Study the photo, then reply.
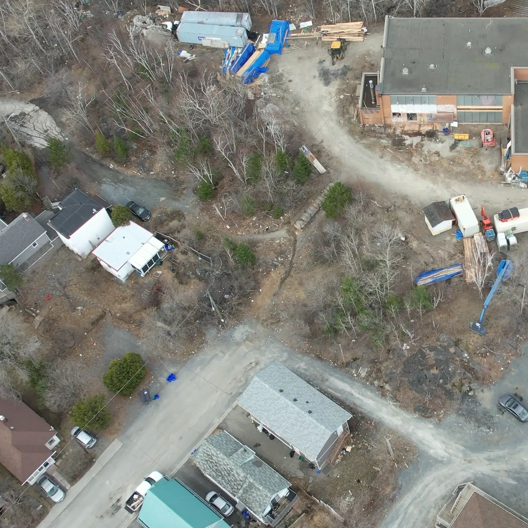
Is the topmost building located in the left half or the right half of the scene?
right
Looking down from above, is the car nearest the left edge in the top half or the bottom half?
bottom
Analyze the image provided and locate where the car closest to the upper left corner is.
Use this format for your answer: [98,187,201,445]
[124,199,155,225]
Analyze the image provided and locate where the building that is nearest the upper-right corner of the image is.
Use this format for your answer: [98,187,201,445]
[360,16,528,171]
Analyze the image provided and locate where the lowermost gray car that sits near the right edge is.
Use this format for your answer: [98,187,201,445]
[496,391,528,429]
